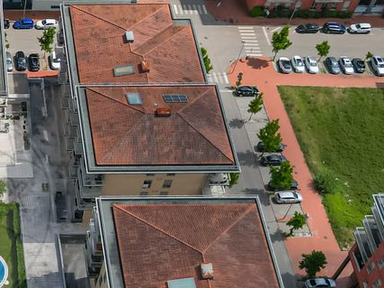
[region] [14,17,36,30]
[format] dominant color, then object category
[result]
blue vehicle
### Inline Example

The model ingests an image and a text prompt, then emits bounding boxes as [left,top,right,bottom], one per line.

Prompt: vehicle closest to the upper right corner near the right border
[346,21,375,33]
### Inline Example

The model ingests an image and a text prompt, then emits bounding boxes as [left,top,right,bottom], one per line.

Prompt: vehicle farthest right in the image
[370,54,384,76]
